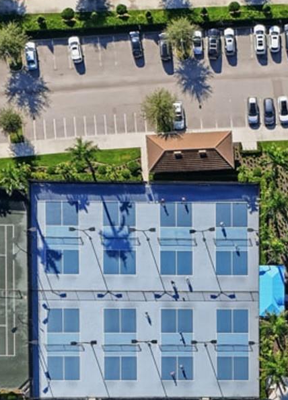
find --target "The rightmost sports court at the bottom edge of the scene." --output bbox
[214,308,251,381]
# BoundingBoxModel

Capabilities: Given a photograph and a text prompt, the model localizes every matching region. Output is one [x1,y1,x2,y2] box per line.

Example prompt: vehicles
[24,42,39,71]
[277,94,288,125]
[223,27,236,57]
[67,36,83,66]
[263,97,276,127]
[128,27,144,63]
[247,96,261,126]
[252,25,266,55]
[283,22,288,55]
[172,101,186,131]
[268,25,282,55]
[158,33,172,62]
[206,30,220,59]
